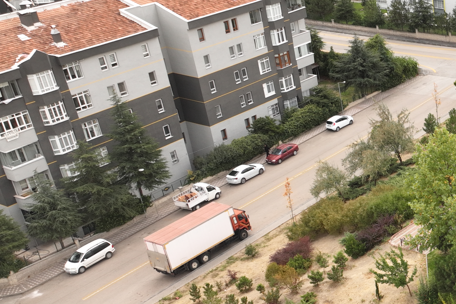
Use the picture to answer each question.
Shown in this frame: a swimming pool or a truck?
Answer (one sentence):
Visible in the photo is a truck.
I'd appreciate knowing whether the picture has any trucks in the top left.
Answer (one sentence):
No, no truck appears in the top left.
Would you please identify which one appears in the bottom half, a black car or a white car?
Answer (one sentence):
The feature located in the bottom half is a white car.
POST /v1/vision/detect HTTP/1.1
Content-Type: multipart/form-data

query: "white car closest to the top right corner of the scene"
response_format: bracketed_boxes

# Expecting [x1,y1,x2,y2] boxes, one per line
[324,115,355,132]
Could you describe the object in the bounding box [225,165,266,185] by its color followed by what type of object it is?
white car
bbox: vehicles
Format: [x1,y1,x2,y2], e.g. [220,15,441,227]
[225,165,266,185]
[137,206,250,279]
[60,240,115,276]
[165,181,224,211]
[324,115,355,132]
[264,144,299,165]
